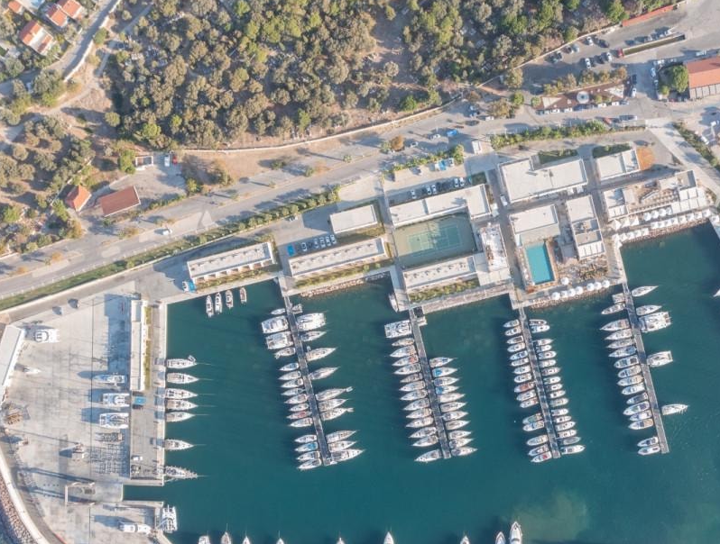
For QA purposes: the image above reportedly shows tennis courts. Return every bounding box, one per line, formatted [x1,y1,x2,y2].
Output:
[392,209,479,269]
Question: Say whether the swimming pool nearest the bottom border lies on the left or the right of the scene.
right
